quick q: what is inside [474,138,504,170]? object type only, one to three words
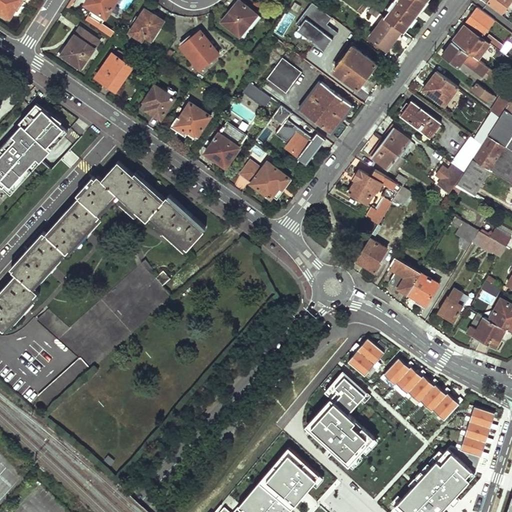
building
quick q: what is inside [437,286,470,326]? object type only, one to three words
house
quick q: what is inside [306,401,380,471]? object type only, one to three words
building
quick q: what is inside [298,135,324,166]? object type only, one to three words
shed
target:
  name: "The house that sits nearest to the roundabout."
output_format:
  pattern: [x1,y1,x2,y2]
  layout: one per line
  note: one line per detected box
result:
[355,238,390,275]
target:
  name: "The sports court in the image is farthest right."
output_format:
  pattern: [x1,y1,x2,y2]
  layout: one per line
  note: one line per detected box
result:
[38,256,169,368]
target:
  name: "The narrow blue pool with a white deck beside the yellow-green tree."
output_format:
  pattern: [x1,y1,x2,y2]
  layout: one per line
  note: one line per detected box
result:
[276,12,296,37]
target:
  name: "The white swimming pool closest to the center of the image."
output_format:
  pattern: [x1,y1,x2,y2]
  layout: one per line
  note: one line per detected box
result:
[251,144,268,161]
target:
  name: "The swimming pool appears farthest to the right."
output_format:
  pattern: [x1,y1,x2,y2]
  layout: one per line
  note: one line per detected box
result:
[476,288,500,307]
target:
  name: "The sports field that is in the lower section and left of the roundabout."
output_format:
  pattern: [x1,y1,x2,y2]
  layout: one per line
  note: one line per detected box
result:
[50,236,280,474]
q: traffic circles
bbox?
[311,266,354,308]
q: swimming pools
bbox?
[258,128,272,142]
[118,0,132,10]
[232,102,256,124]
[476,288,500,307]
[251,144,268,161]
[276,12,296,37]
